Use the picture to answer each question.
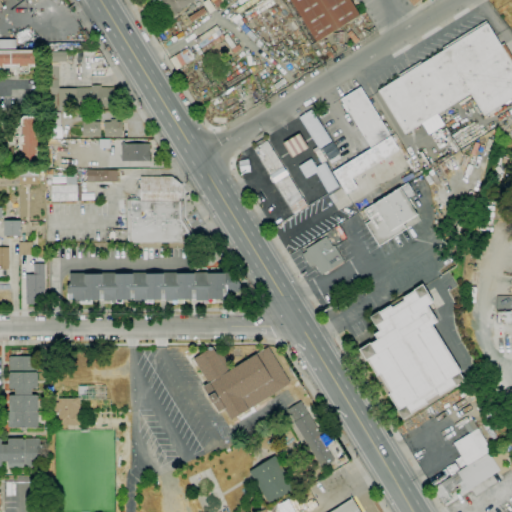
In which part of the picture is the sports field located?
bottom left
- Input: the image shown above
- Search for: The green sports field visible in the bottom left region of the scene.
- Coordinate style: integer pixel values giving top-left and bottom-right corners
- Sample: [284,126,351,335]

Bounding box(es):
[54,430,116,512]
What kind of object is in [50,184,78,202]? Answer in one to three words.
shed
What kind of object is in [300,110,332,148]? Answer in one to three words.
building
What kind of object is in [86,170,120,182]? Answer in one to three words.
house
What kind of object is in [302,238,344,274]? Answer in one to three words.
building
